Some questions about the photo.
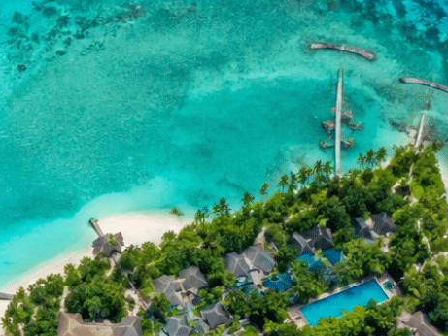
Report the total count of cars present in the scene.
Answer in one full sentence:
I count no cars.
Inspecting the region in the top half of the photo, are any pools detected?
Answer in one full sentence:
No, no pool appears in the top half of the photo.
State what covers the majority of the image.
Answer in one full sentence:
The scene is dominated by water.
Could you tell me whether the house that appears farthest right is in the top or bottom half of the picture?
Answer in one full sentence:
The bottom half of the photo is where the house that appears farthest right is.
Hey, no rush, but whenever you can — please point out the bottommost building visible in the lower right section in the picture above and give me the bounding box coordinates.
[390,314,439,336]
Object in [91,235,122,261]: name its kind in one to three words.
house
